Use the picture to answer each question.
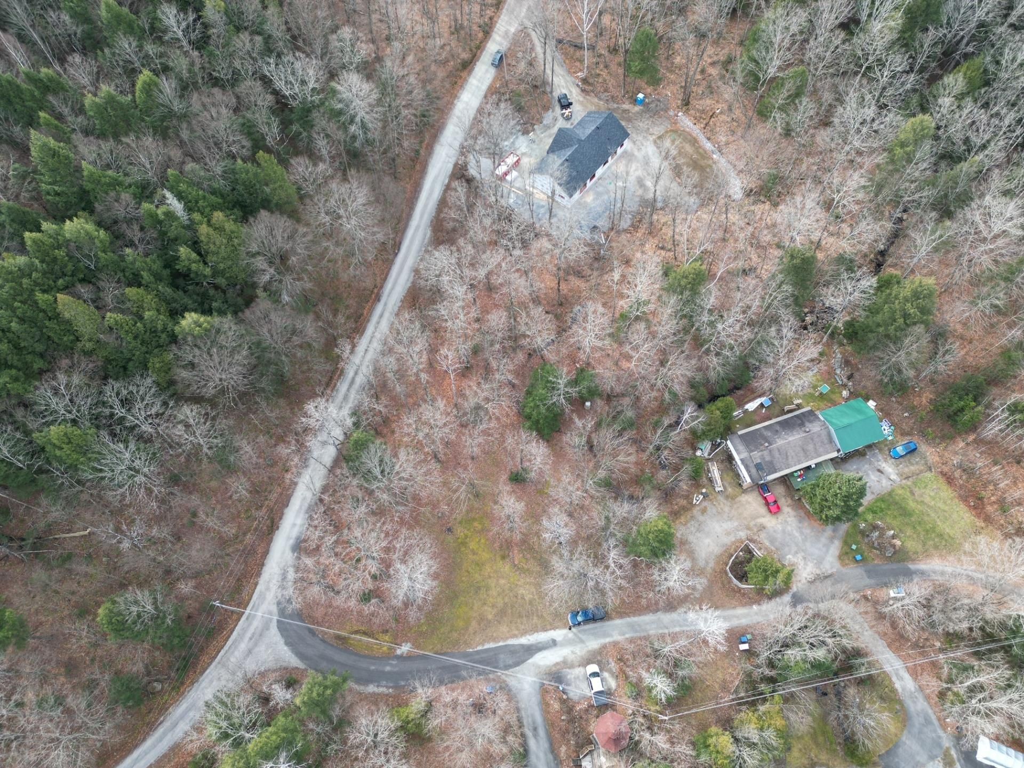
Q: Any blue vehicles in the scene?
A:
Yes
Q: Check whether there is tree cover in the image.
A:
Yes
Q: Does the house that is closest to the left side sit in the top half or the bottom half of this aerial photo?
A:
top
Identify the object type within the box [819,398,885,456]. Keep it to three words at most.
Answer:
building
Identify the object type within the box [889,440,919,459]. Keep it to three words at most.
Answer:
car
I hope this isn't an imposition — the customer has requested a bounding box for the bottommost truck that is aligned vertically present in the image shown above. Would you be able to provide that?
[586,662,608,707]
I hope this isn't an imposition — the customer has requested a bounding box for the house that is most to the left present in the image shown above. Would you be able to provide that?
[529,111,630,205]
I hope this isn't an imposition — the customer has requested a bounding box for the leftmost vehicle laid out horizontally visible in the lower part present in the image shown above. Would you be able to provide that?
[567,605,608,625]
